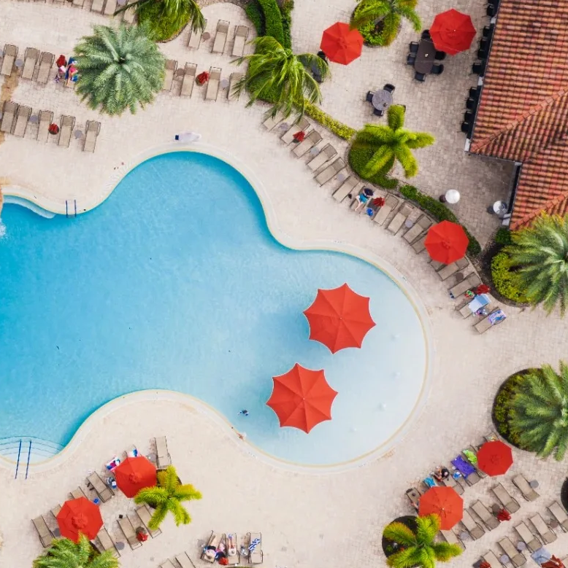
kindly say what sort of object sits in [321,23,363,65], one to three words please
umbrella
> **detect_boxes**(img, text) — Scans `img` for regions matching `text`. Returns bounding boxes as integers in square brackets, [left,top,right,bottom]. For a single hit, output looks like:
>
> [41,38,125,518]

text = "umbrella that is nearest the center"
[302,281,376,356]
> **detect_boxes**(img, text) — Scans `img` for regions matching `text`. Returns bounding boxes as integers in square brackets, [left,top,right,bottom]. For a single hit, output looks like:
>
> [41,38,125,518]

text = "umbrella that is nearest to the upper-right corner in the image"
[428,9,474,55]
